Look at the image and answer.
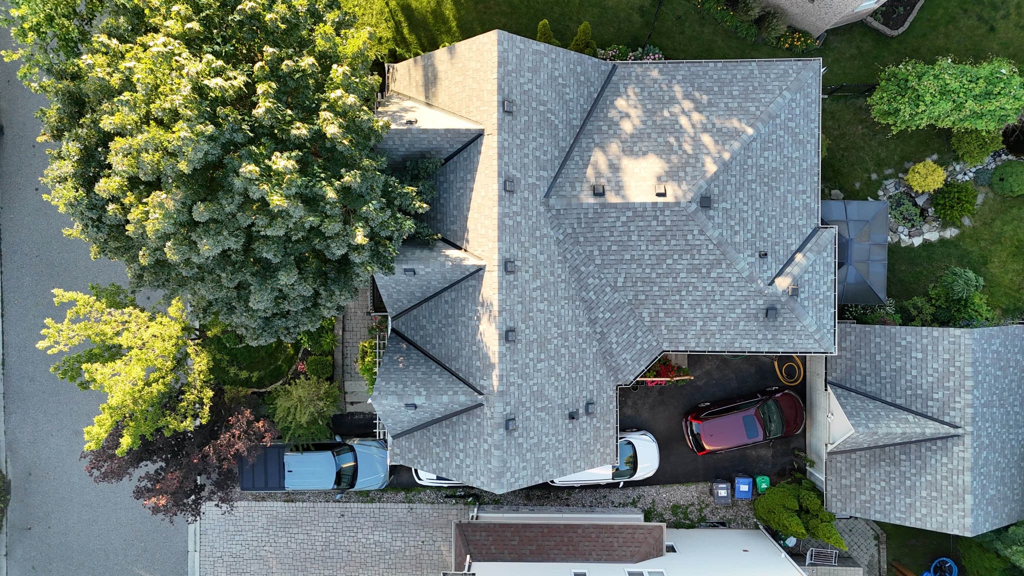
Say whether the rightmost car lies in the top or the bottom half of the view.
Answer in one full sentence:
The rightmost car is in the bottom half of the image.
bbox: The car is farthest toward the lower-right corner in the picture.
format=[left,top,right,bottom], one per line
[681,390,808,460]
